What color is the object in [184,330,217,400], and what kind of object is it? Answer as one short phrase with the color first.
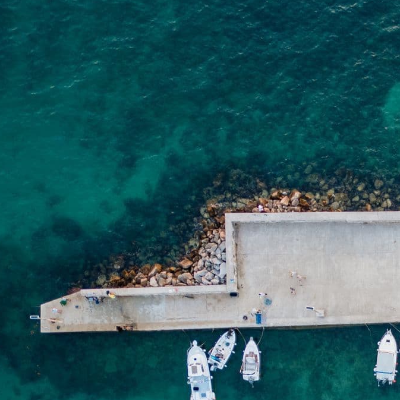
white boat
